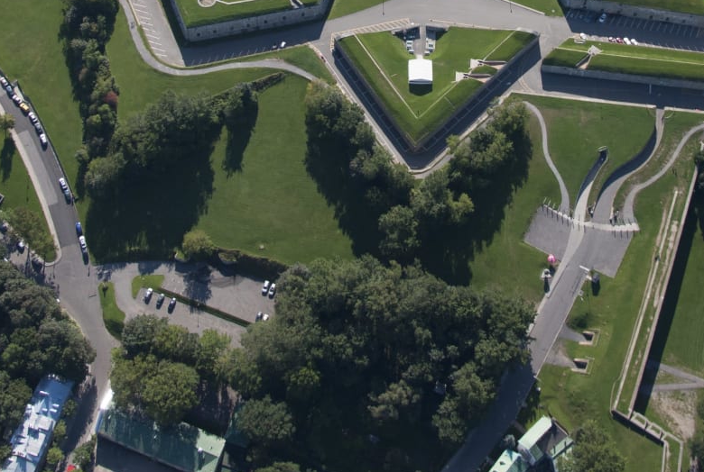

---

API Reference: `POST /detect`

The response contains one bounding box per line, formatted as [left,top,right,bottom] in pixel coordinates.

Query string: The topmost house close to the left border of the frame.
[32,373,79,417]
